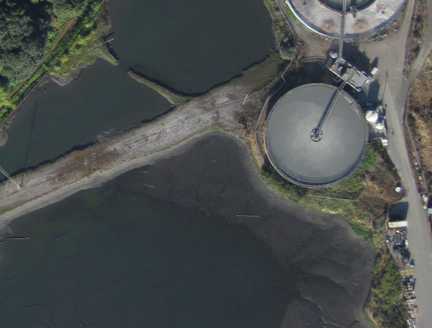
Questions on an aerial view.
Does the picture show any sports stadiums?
No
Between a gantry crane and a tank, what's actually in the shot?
tank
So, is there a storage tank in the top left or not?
No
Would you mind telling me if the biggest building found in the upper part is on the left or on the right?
right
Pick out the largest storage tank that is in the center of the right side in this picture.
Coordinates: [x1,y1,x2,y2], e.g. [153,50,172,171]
[262,81,369,187]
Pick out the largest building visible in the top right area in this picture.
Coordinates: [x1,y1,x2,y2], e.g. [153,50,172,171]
[327,57,370,93]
